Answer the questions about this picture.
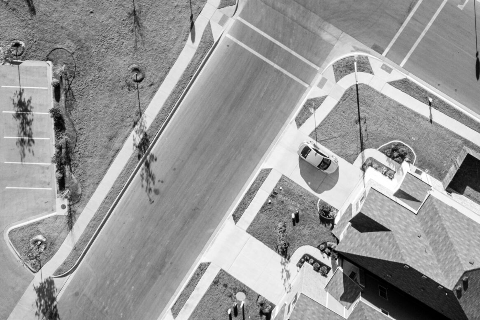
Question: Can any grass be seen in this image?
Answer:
Yes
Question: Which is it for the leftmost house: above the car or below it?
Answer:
below it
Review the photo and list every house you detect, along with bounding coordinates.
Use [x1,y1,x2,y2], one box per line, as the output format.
[331,169,480,320]
[275,267,396,320]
